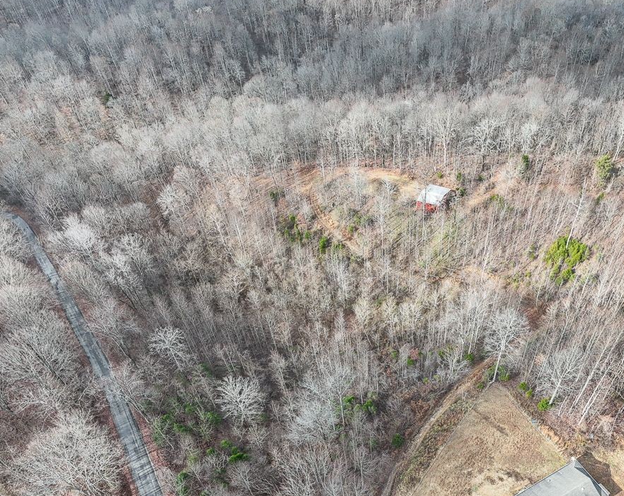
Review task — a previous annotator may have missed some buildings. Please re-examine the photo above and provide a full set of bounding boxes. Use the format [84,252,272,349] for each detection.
[414,183,459,216]
[518,454,606,496]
